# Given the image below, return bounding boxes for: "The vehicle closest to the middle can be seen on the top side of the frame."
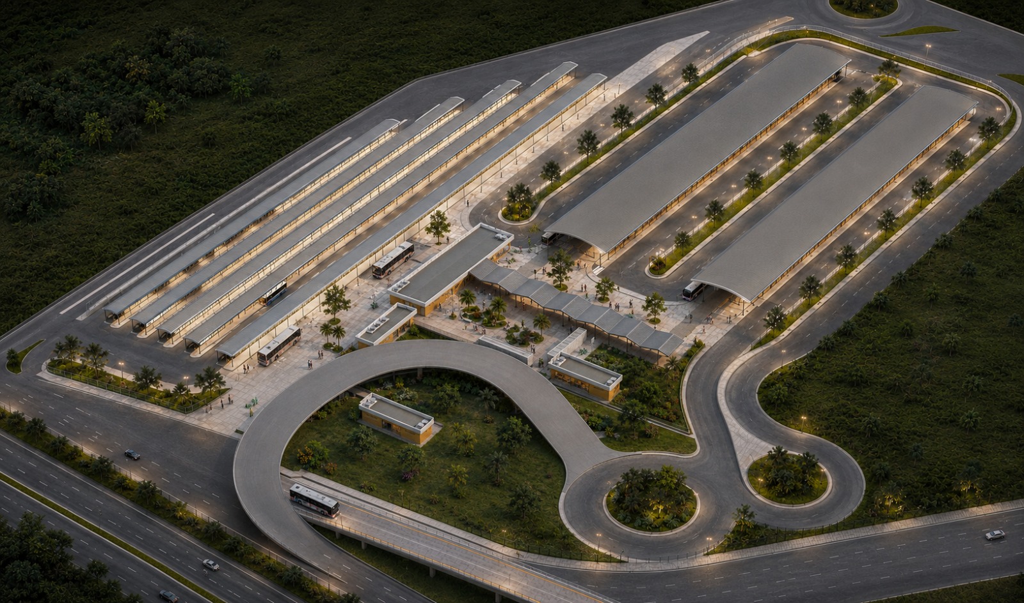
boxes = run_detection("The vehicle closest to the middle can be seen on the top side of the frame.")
[540,231,562,245]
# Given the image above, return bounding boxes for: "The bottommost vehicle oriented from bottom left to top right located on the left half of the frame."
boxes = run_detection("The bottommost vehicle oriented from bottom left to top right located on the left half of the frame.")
[256,326,300,364]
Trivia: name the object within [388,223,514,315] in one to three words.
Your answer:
building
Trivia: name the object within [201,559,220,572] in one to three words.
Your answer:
vehicle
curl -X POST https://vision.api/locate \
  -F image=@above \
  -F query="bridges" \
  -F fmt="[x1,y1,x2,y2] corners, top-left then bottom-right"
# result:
[281,470,625,603]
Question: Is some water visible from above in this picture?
No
